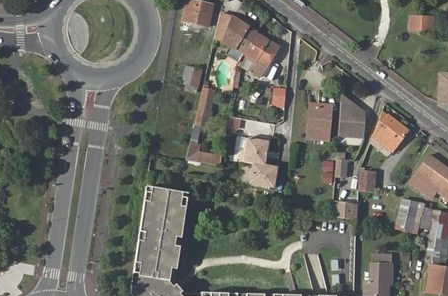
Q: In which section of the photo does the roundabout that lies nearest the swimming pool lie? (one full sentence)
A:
The roundabout that lies nearest the swimming pool appears toward the top left of the photo.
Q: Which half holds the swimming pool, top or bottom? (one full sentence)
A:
The swimming pool sits in the top half of the picture.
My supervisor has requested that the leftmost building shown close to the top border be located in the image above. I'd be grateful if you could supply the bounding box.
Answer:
[181,0,214,26]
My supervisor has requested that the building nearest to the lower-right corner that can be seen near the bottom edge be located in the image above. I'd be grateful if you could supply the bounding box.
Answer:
[424,264,448,296]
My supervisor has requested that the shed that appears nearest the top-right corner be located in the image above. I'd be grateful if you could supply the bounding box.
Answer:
[407,14,434,32]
